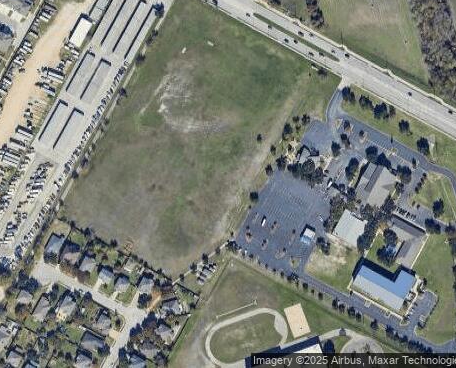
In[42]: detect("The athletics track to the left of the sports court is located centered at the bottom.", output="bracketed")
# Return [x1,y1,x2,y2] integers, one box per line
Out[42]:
[208,310,284,368]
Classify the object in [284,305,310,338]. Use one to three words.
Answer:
sports court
